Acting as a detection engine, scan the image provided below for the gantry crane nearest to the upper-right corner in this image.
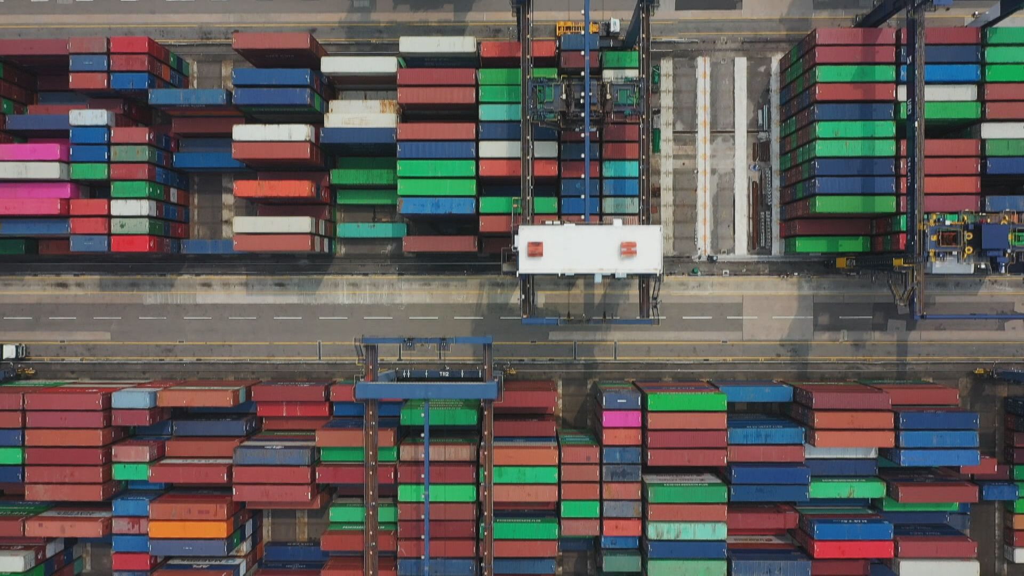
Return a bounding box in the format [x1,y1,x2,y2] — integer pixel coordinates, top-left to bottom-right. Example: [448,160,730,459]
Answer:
[797,0,1024,320]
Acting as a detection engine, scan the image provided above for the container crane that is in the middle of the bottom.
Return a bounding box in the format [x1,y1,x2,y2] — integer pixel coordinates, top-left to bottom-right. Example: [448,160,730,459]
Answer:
[353,337,509,576]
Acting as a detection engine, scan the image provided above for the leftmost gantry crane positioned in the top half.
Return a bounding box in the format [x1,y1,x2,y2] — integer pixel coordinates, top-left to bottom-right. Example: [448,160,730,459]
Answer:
[504,0,662,324]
